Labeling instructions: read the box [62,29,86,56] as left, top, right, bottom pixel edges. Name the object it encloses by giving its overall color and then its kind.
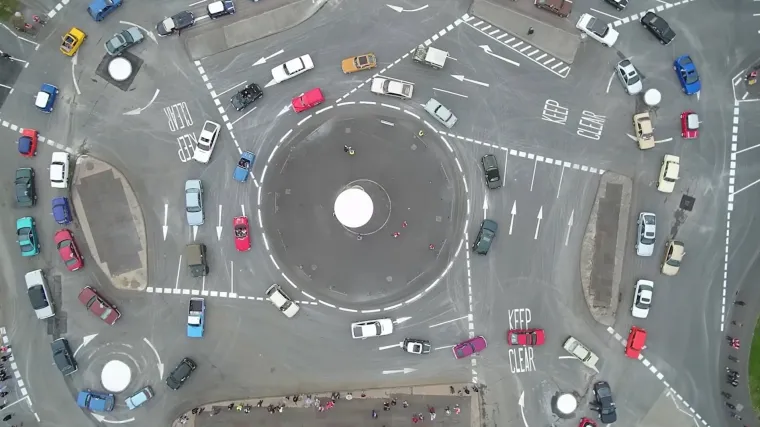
yellow car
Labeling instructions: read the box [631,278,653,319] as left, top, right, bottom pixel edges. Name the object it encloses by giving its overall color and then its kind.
white car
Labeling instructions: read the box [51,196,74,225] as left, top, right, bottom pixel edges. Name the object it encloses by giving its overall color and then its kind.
blue car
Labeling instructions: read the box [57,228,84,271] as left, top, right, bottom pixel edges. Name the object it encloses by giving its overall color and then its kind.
red car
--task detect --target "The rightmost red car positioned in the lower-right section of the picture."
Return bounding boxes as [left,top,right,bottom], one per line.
[623,326,648,359]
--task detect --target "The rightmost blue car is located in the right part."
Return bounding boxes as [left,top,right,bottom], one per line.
[675,55,701,94]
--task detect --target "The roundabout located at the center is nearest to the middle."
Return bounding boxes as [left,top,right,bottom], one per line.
[258,101,469,313]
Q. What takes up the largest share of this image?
paved ground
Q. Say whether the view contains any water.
No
